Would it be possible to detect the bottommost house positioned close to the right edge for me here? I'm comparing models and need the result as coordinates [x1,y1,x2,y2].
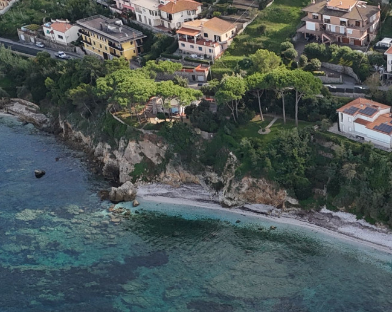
[335,99,392,151]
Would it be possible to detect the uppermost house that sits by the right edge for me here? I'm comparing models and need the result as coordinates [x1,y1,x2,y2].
[298,0,387,48]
